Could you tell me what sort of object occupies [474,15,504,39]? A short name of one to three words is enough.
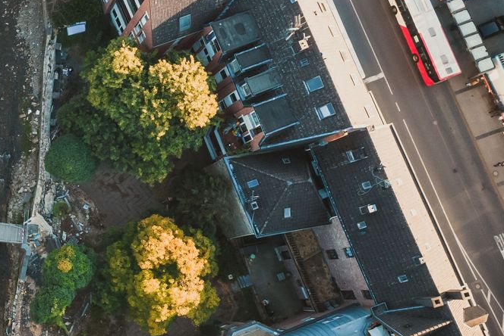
car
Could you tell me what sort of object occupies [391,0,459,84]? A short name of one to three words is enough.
bus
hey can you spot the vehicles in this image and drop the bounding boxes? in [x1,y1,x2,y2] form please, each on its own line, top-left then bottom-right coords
[391,0,459,84]
[474,15,504,39]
